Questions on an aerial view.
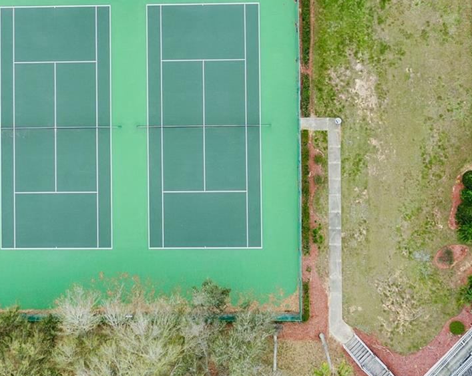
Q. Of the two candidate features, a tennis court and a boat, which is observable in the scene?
tennis court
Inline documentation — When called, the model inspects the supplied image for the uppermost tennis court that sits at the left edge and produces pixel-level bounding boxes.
[0,4,113,250]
